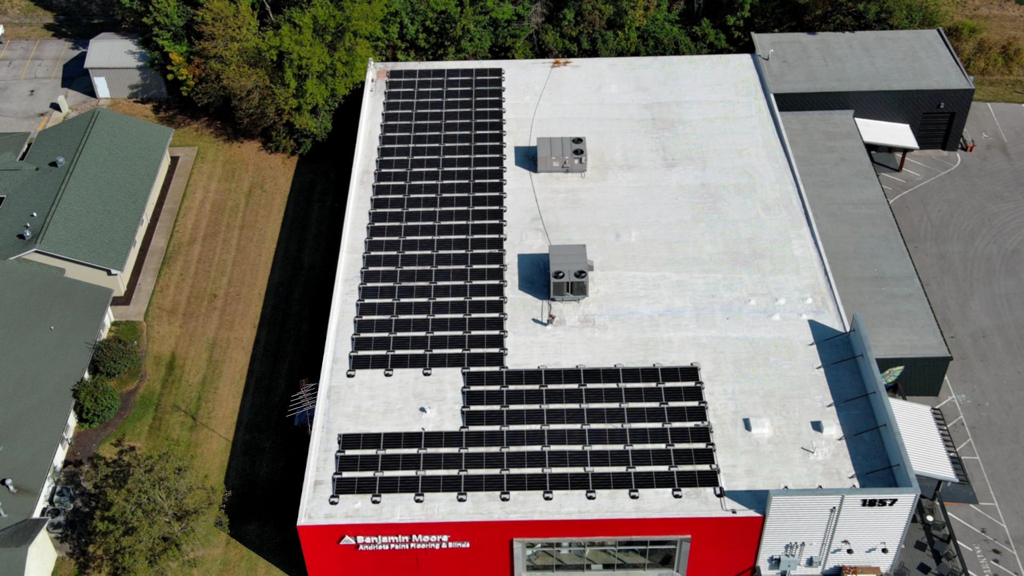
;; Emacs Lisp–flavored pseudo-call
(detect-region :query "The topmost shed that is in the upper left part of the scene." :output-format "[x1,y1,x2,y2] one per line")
[83,31,178,98]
